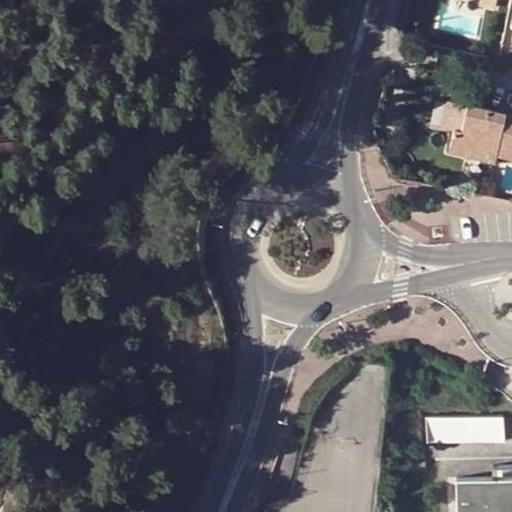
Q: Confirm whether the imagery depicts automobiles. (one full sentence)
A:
Yes, there's an automobile down there.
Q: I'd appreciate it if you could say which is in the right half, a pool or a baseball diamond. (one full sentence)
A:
It is a pool that can be seen in the right half.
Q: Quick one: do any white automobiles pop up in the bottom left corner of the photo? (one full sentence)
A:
No, looking in the bottom left corner of the photo, there is no white automobile.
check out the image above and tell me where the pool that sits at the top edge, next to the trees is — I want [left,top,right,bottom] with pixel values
[438,13,484,40]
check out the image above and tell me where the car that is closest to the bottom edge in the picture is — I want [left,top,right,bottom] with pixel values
[310,302,330,322]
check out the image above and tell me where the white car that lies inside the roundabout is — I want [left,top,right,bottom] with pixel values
[246,218,264,238]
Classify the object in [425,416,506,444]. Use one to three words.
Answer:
building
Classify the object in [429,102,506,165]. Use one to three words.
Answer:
house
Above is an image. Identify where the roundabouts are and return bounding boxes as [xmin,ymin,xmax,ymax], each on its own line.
[231,179,373,321]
